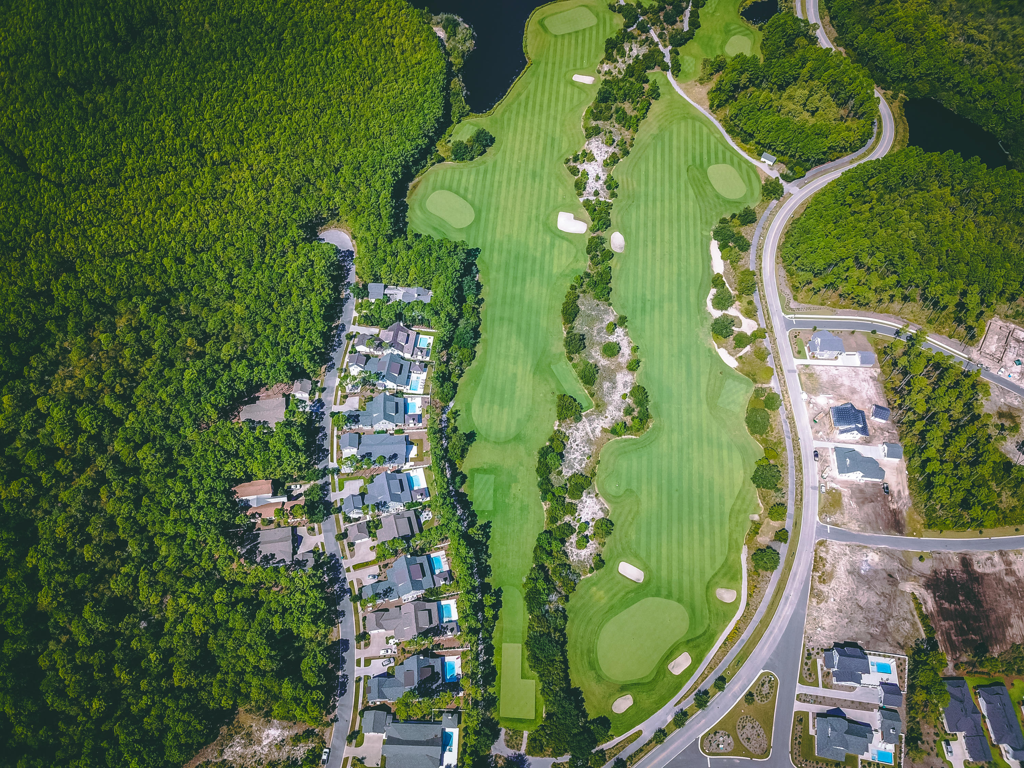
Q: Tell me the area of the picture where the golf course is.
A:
center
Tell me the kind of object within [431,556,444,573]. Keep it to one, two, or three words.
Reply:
swimming pool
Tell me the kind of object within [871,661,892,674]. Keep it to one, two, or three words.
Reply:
swimming pool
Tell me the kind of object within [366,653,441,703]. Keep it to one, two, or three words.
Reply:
house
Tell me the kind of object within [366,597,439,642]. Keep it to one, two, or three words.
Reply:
house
